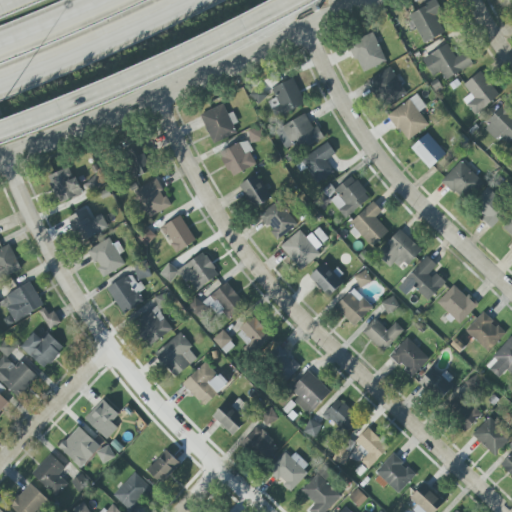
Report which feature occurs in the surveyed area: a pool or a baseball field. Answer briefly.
pool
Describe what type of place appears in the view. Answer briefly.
residential area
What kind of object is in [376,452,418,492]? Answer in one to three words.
house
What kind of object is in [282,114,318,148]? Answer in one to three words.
house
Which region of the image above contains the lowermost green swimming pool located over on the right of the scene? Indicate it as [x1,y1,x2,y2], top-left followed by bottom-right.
[437,348,453,370]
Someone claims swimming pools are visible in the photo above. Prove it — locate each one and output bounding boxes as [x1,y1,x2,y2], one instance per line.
[360,281,385,302]
[122,431,133,442]
[437,348,453,370]
[340,252,352,264]
[352,240,364,252]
